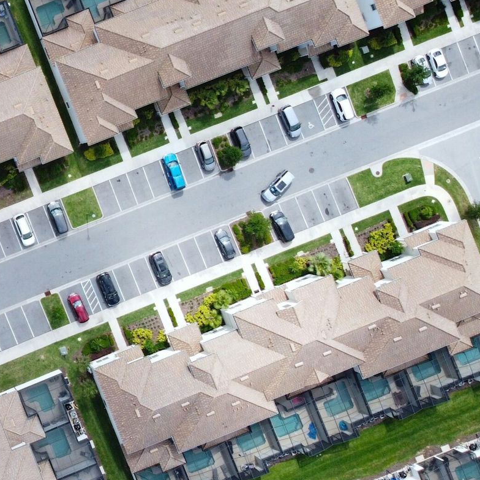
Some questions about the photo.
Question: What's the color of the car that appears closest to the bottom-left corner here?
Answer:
red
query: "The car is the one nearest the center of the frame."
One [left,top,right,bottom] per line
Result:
[214,227,237,261]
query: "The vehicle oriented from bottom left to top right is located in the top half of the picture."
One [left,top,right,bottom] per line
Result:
[261,170,294,201]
